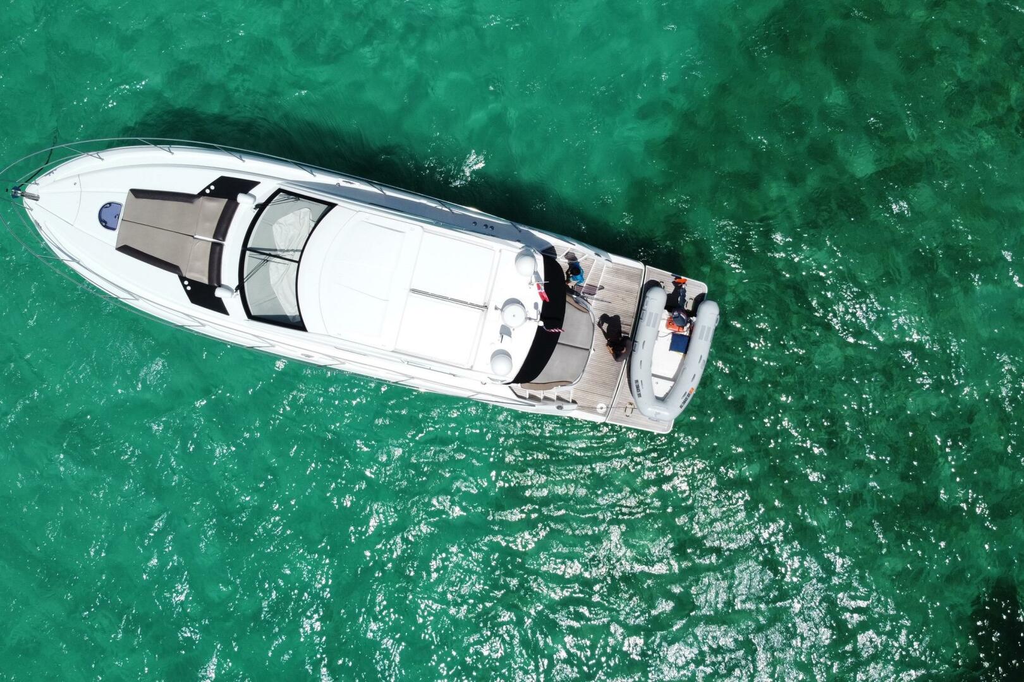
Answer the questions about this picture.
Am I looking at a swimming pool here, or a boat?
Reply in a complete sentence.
I can see a boat in this picture.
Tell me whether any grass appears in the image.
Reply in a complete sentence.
No, there is no grass in the image.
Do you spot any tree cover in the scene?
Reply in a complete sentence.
No, there's no tree cover in this view.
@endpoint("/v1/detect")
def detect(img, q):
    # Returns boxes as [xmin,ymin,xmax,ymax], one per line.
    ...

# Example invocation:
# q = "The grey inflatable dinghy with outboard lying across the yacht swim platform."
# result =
[631,278,719,421]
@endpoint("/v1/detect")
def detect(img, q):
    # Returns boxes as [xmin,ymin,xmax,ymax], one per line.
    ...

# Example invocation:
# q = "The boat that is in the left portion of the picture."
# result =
[0,137,707,434]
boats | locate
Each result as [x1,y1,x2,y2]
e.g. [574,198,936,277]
[0,137,707,434]
[631,278,719,421]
